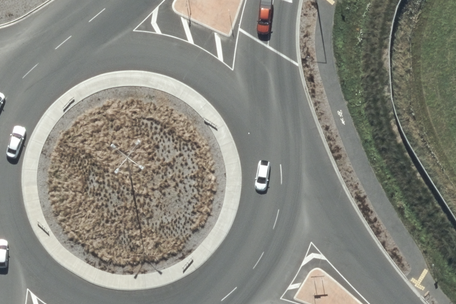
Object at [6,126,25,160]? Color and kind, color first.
white car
